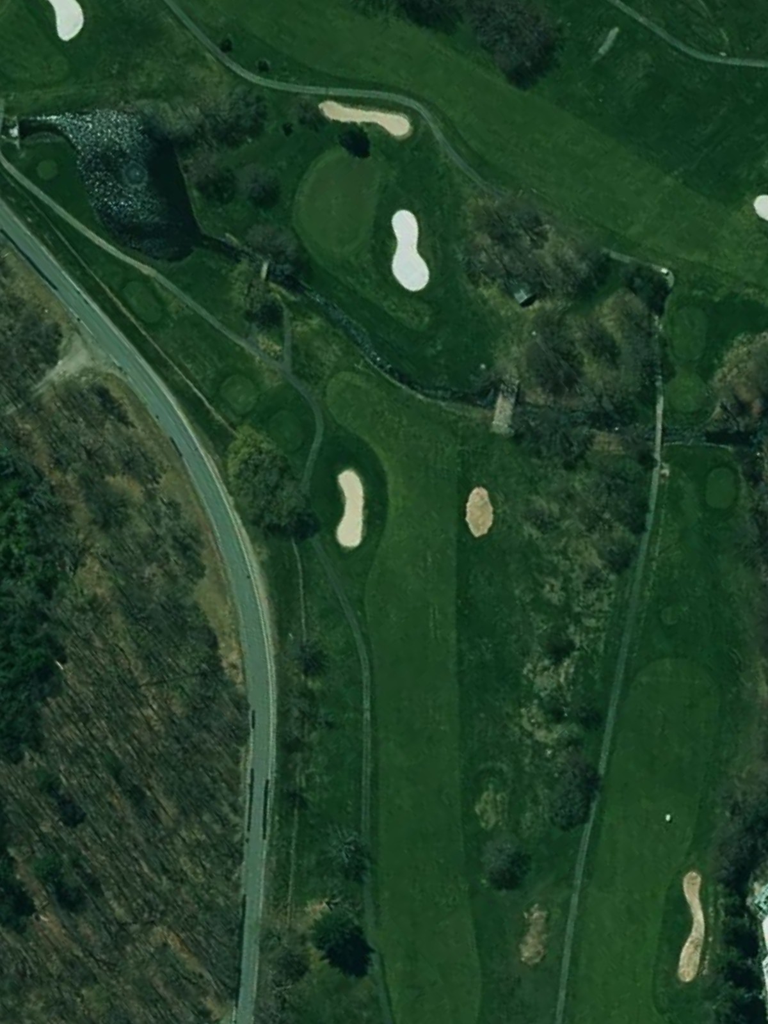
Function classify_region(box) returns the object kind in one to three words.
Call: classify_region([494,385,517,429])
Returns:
bridge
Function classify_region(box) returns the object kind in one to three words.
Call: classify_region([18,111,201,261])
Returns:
pond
